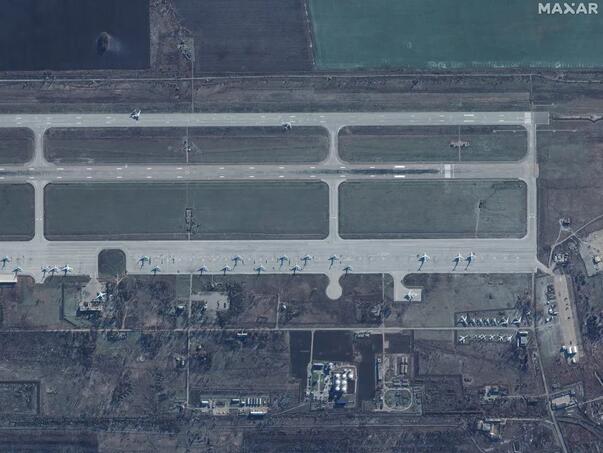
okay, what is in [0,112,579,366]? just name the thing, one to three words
airport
